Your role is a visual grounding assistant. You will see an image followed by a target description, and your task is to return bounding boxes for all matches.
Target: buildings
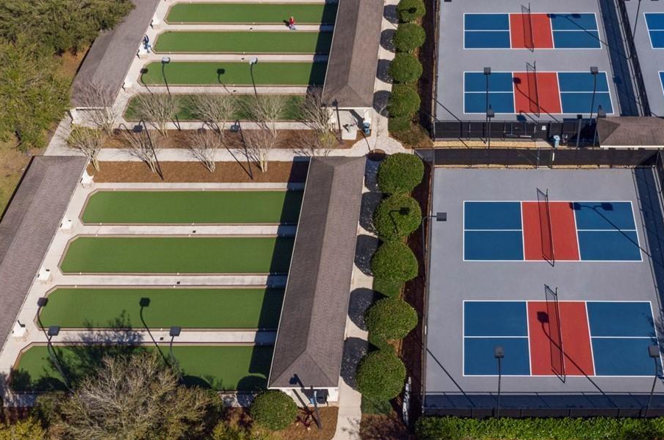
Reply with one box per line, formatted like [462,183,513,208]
[266,155,367,402]
[63,0,174,131]
[0,154,94,357]
[595,116,664,149]
[319,0,388,131]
